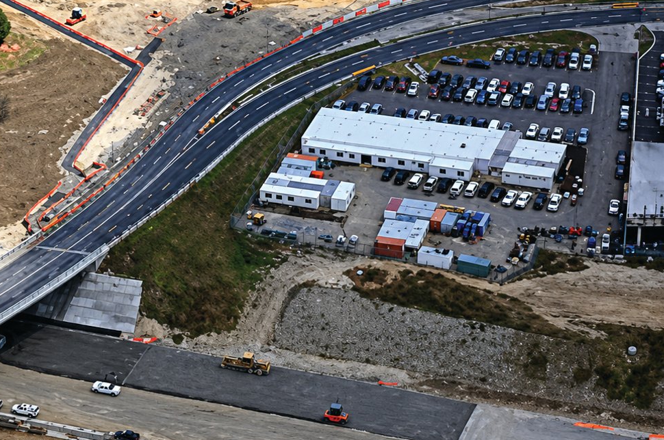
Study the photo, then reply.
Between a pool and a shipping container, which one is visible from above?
shipping container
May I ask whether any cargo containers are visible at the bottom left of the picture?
No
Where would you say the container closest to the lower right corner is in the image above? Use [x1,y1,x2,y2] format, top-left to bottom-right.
[456,253,491,278]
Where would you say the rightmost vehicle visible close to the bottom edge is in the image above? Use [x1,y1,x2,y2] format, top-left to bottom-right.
[323,403,349,426]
